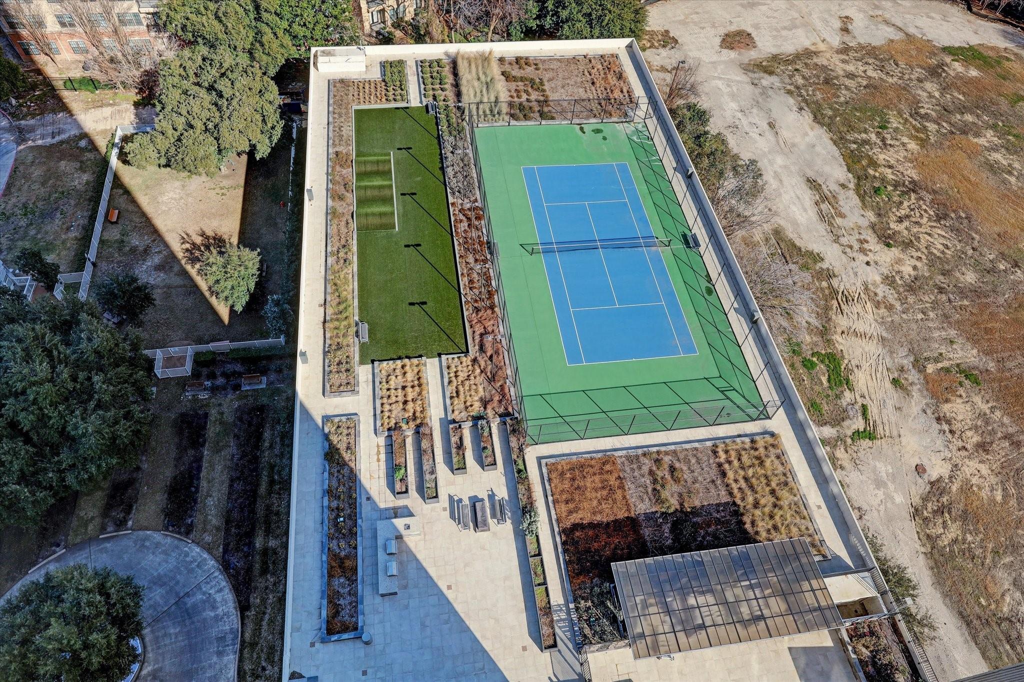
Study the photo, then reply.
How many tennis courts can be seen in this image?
one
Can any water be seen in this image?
No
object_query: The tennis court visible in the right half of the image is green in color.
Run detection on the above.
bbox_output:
[480,120,771,445]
